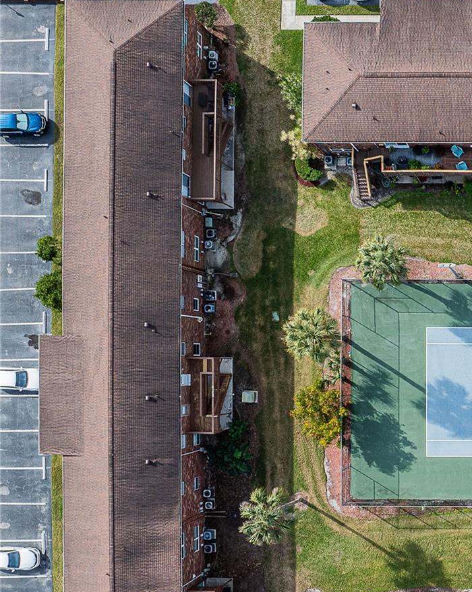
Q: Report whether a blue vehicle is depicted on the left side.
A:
Yes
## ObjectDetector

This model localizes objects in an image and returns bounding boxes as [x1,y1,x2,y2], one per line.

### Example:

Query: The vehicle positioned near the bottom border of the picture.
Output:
[0,546,43,573]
